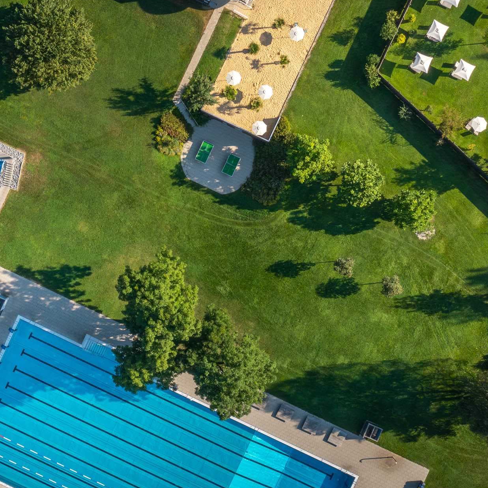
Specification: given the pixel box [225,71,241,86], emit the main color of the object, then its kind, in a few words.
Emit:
white umbrella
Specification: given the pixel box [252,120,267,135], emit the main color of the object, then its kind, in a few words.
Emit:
white umbrella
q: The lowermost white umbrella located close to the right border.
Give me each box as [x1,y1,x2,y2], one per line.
[468,118,485,133]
